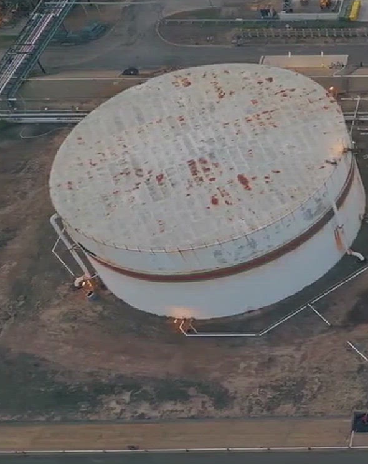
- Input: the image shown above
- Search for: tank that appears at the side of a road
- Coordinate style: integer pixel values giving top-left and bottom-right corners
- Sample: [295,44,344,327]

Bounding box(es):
[48,60,368,320]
